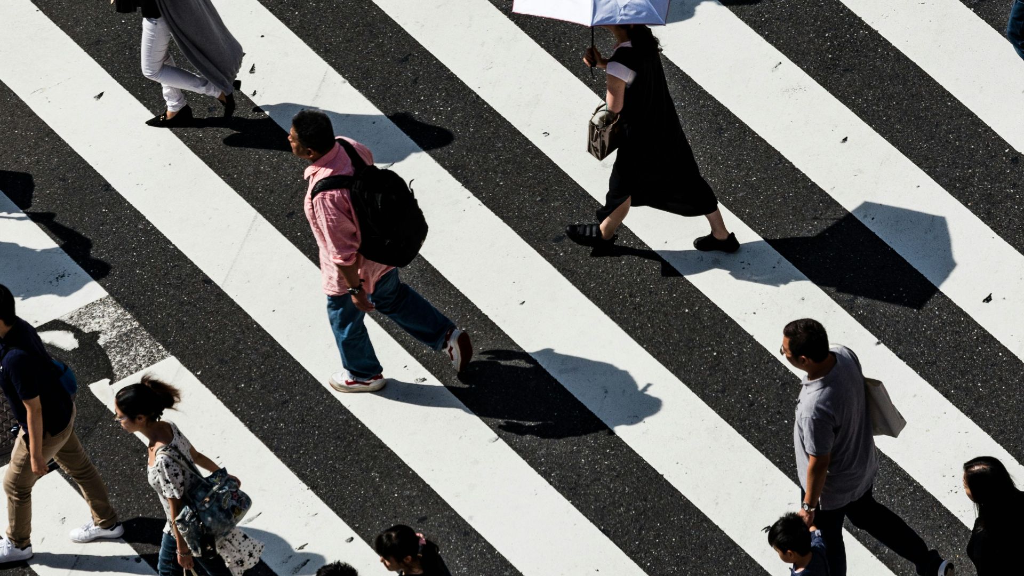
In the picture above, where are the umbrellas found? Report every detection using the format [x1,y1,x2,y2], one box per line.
[510,0,666,82]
